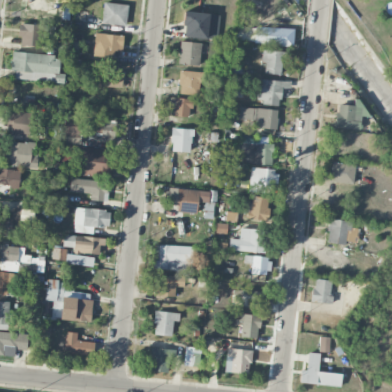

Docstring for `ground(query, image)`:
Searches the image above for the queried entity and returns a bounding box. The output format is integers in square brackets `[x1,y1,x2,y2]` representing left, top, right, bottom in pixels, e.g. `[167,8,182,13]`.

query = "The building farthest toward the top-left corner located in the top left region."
[19,22,34,46]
